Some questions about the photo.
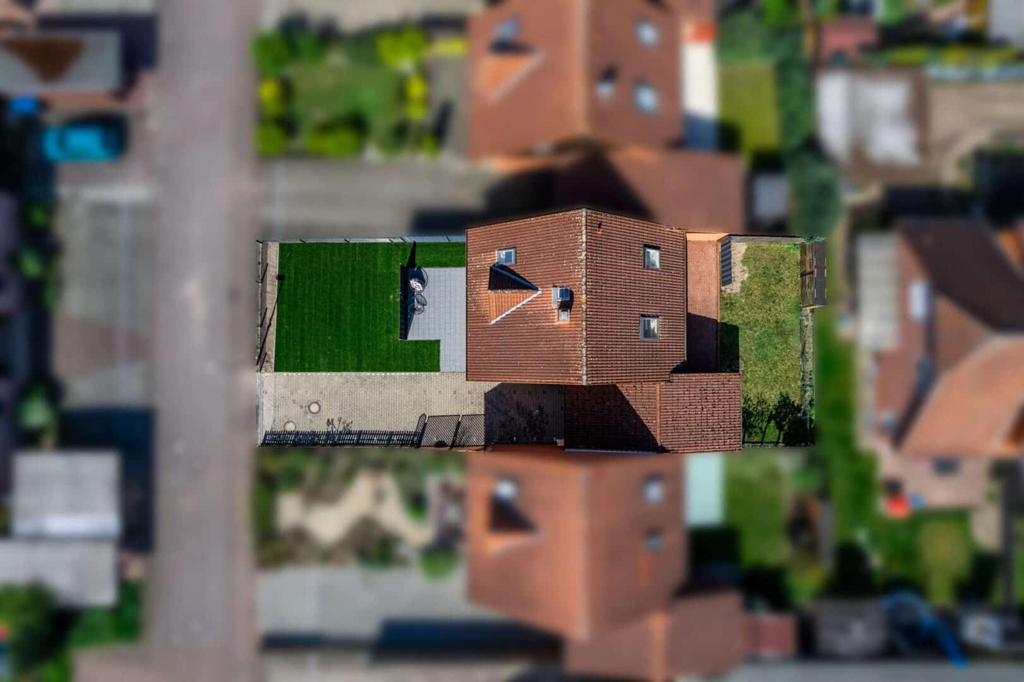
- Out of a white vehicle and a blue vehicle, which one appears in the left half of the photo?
blue vehicle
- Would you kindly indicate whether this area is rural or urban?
urban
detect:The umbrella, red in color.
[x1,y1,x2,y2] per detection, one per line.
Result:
[880,491,911,517]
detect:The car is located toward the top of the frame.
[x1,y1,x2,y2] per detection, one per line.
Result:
[48,124,122,163]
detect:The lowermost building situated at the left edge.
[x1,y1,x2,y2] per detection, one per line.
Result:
[0,531,138,602]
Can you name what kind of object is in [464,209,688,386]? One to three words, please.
house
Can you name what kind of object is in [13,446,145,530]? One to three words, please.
building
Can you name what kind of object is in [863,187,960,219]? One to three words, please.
shed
